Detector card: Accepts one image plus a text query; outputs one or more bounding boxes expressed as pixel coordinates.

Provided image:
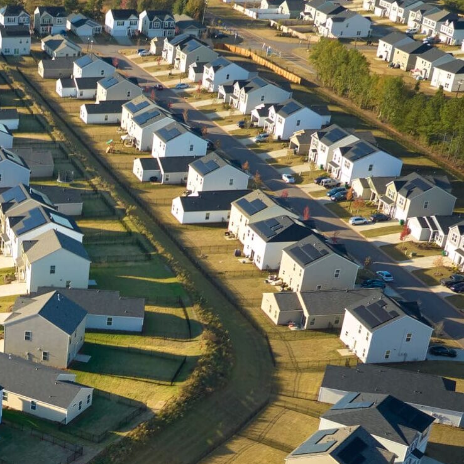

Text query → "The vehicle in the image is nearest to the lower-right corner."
[428,343,458,355]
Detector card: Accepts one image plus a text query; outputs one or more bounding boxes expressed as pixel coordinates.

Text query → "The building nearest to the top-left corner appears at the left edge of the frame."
[0,4,31,27]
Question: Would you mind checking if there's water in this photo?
No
